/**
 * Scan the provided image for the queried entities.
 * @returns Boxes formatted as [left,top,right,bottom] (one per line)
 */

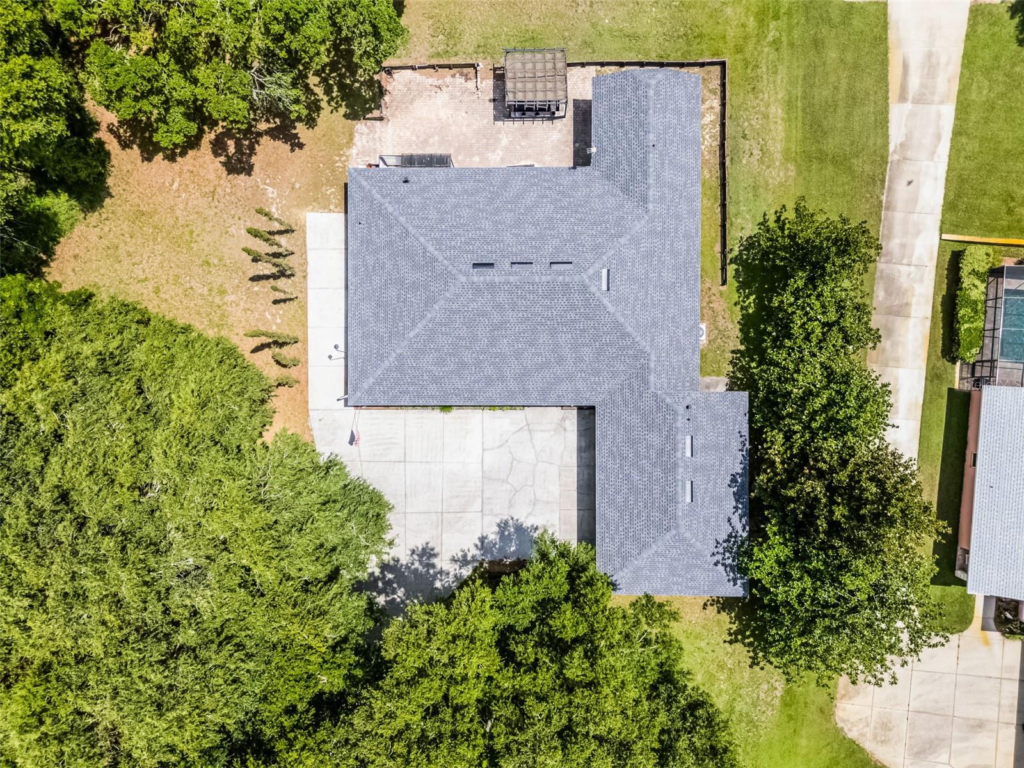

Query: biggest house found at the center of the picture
[340,67,750,598]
